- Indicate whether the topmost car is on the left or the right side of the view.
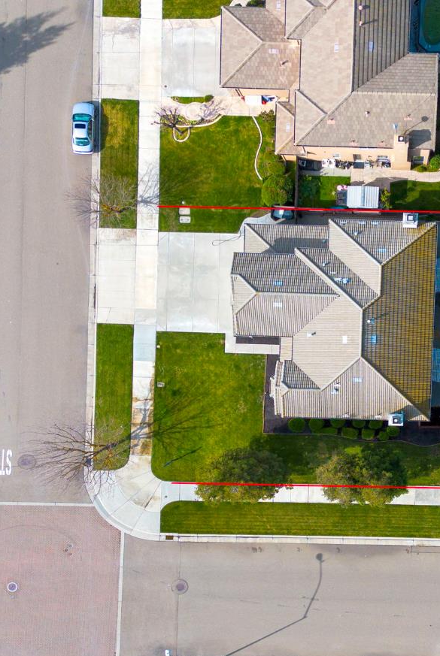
left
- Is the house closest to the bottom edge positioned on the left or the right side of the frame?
right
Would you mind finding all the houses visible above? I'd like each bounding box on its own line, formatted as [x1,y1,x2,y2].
[219,0,440,175]
[230,203,438,426]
